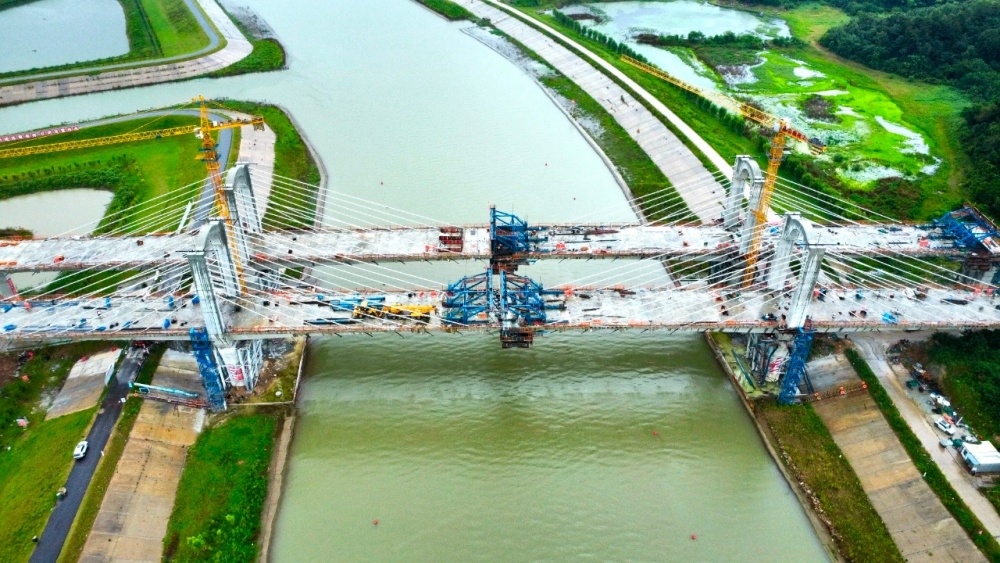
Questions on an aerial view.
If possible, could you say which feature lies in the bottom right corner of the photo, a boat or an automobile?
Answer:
automobile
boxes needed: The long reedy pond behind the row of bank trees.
[557,0,779,133]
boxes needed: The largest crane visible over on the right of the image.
[614,47,835,360]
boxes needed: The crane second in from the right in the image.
[383,298,443,322]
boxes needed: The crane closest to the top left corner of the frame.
[0,94,271,368]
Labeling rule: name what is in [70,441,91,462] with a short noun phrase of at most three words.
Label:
car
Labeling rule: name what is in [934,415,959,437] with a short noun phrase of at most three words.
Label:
car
